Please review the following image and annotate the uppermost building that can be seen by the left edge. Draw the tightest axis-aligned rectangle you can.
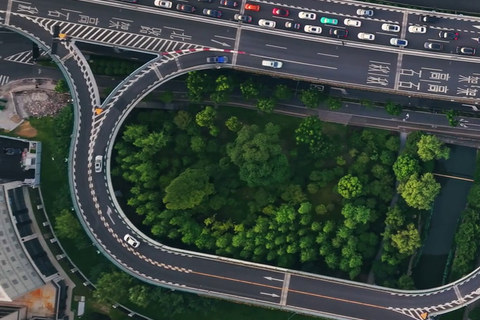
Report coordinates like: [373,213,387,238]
[0,134,51,187]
